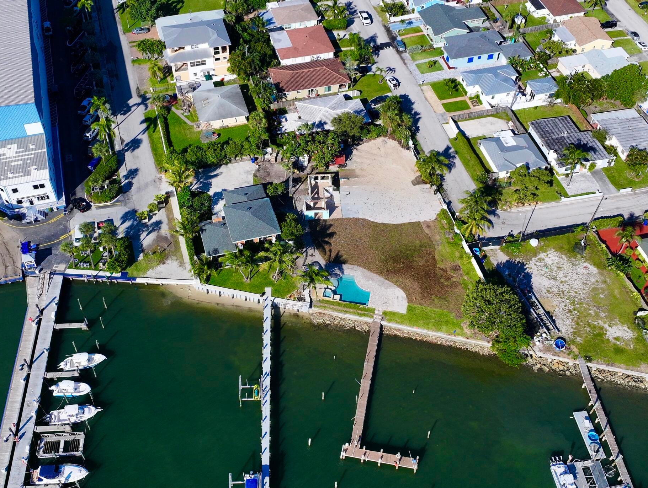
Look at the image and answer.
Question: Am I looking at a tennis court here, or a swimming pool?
swimming pool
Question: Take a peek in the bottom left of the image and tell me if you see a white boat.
Yes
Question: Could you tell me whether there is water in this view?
Yes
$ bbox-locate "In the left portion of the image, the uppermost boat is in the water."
[58,352,108,372]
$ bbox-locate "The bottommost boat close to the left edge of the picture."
[26,463,91,487]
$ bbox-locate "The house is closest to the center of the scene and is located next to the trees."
[199,185,281,262]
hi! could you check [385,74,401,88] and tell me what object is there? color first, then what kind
white vehicle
